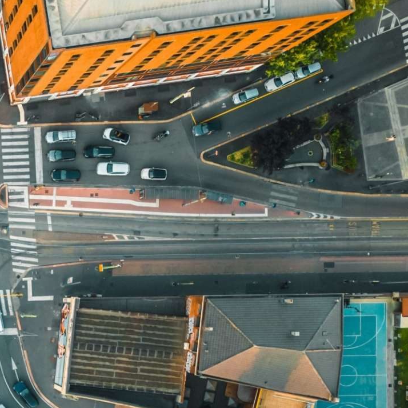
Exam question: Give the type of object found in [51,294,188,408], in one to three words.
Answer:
building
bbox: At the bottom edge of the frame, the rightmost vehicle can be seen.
[14,377,37,408]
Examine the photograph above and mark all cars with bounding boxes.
[101,127,132,146]
[294,61,323,80]
[192,121,223,137]
[95,161,130,176]
[14,377,37,408]
[46,148,76,162]
[82,145,116,160]
[229,88,259,105]
[139,167,167,181]
[44,129,77,145]
[262,74,297,92]
[49,167,80,182]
